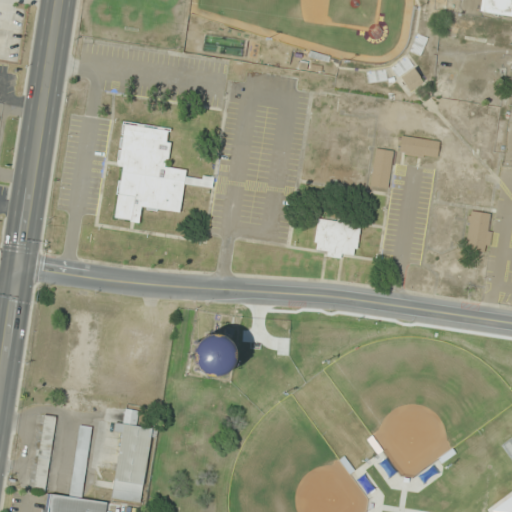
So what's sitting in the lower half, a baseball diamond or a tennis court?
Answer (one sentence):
There is a baseball diamond in the lower half.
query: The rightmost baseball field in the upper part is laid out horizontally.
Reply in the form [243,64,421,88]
[190,0,415,62]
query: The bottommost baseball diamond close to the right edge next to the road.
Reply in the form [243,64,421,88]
[324,337,512,478]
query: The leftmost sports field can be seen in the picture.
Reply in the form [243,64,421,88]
[90,0,178,30]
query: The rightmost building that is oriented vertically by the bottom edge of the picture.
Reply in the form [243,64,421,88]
[112,410,152,504]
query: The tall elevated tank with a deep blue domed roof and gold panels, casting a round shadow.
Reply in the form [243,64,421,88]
[192,328,242,382]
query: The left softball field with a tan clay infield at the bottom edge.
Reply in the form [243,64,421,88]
[229,394,368,512]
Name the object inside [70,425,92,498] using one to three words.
shed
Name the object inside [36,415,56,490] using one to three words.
shed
